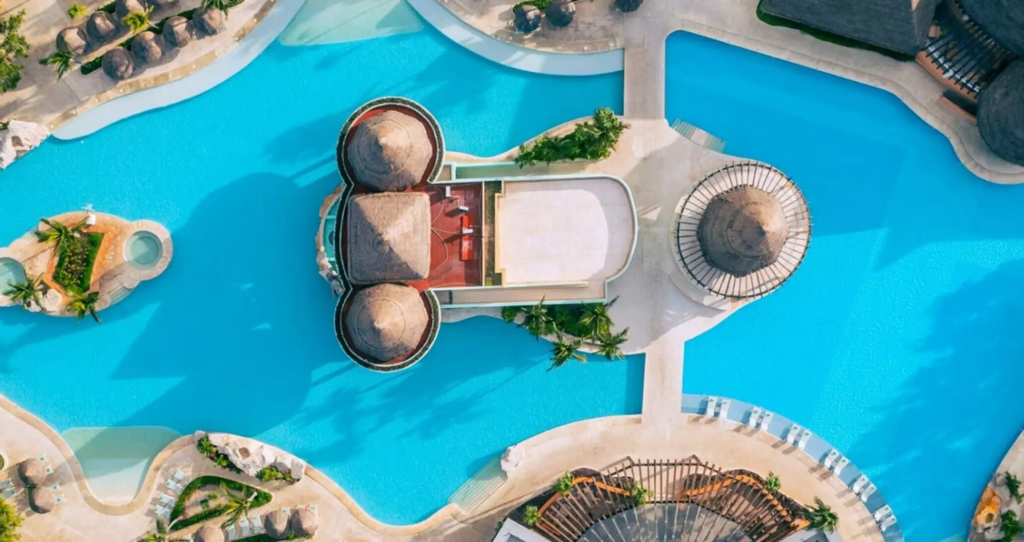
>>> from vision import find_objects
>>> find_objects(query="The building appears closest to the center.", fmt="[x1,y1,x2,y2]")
[334,96,637,372]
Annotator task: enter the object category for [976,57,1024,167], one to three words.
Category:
building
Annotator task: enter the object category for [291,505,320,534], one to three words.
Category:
umbrella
